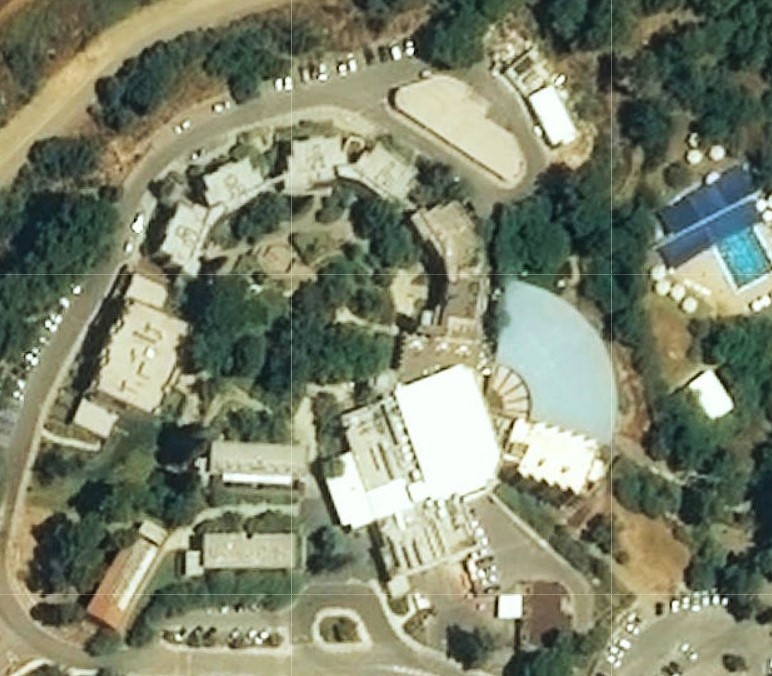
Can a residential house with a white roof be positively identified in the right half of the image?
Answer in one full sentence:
Yes, the scene does show a residential house with a white roof in the right half of the image.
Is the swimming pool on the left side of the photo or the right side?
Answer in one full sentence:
The swimming pool is on the right side of the image.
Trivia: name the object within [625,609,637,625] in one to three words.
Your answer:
vehicle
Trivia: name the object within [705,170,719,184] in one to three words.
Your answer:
umbrella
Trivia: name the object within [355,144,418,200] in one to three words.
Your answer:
building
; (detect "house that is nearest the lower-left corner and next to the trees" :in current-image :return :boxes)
[89,541,161,633]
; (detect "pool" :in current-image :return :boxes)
[675,205,772,317]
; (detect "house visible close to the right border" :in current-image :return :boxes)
[688,369,734,419]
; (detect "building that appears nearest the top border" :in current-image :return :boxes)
[496,47,549,96]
